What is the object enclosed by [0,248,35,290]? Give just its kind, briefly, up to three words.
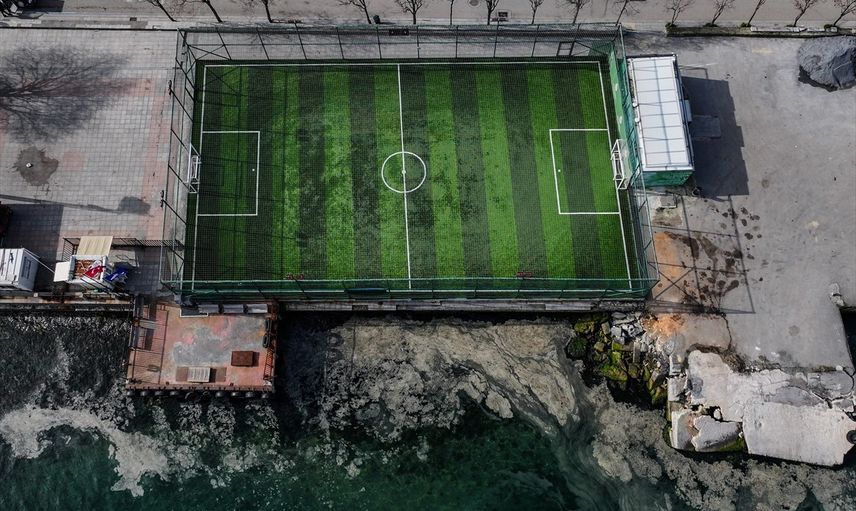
building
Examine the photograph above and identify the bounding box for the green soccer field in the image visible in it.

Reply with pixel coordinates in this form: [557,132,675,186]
[181,56,639,282]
